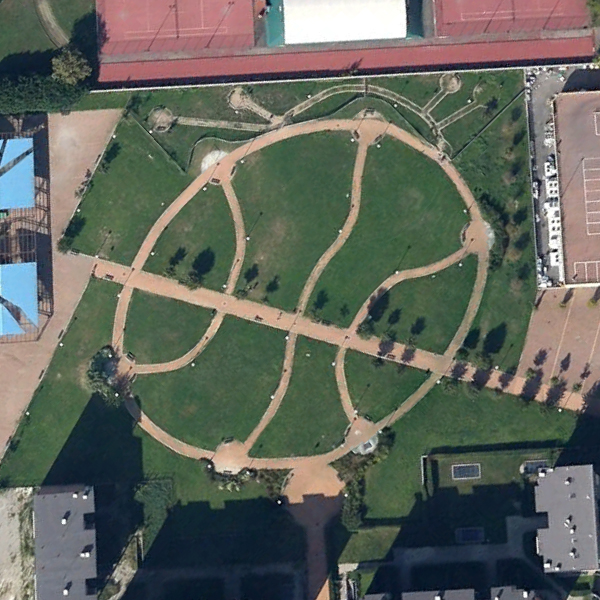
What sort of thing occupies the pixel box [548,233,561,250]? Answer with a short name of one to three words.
vehicle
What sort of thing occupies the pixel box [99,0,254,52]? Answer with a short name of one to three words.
tennis court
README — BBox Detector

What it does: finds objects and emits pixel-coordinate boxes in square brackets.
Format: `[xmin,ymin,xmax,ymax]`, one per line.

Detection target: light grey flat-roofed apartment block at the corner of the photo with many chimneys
[532,457,598,572]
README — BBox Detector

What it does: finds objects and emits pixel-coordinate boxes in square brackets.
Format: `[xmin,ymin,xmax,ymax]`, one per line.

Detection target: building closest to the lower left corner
[30,483,103,600]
